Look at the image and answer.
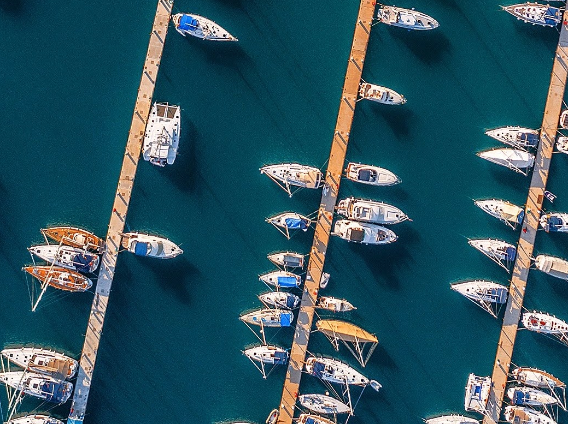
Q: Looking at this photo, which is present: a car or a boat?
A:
boat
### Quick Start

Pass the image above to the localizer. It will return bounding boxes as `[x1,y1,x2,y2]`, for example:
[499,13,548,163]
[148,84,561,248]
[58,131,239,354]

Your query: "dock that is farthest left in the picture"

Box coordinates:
[72,0,174,424]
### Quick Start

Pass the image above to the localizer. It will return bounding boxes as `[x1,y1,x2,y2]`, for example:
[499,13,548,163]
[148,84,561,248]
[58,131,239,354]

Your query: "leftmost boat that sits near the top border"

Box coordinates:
[163,6,239,42]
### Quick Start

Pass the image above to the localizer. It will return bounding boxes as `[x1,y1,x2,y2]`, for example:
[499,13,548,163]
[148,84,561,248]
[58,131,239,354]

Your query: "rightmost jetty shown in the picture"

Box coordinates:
[483,2,568,424]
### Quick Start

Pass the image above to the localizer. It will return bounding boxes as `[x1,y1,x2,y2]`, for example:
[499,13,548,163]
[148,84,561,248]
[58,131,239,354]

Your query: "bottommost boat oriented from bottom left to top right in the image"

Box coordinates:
[265,409,278,424]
